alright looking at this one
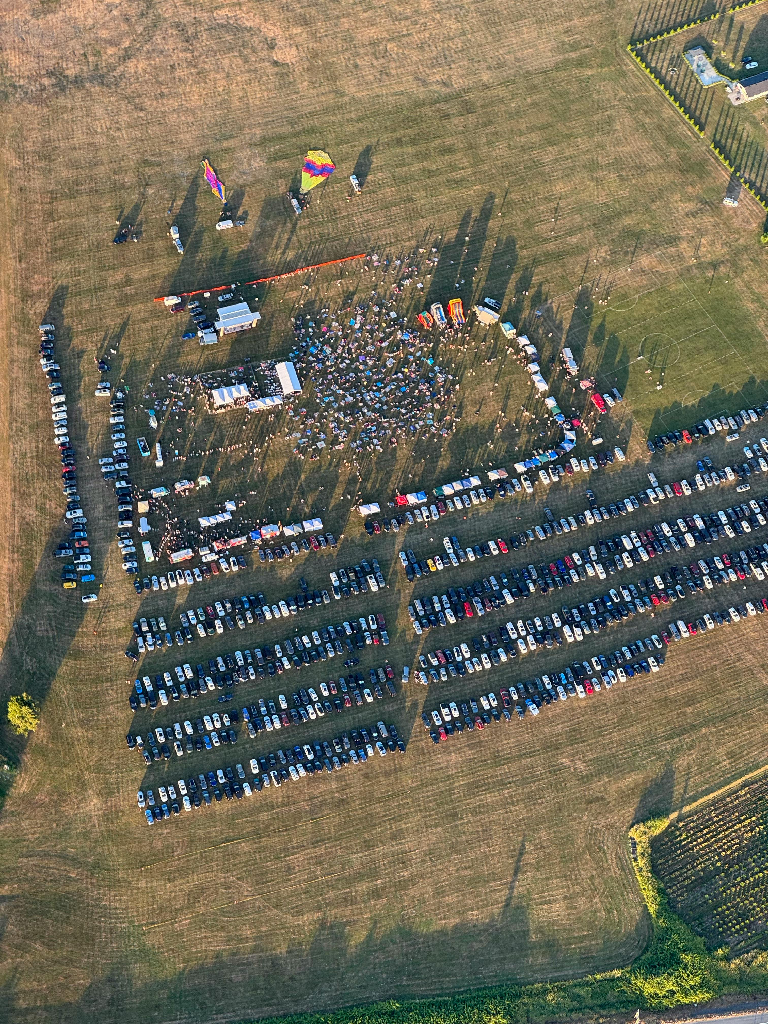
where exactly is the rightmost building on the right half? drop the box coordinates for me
[736,70,768,103]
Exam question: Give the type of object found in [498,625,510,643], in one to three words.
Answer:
vehicle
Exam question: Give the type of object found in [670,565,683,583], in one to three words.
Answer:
vehicle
